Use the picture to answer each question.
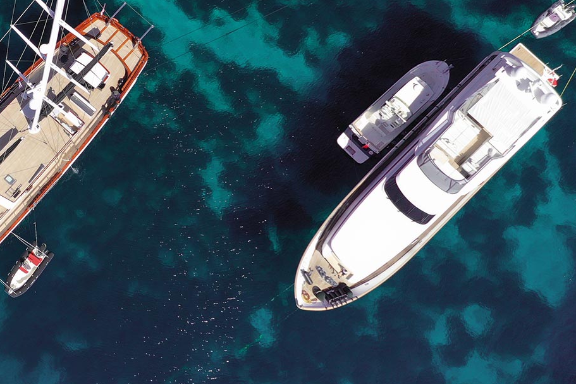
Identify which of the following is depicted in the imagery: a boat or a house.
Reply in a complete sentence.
I can see a boat in this picture.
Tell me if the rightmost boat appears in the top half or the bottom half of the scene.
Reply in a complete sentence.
Seen from above, the rightmost boat lies in the top half of the view.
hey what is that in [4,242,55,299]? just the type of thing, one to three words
boat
